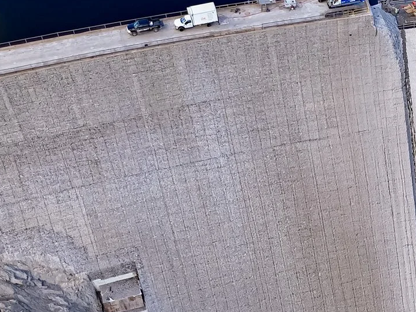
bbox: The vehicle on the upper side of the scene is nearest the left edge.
[126,15,162,31]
